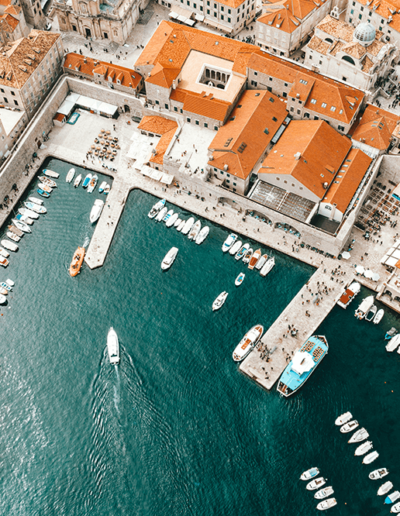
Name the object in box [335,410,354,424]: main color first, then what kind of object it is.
white boat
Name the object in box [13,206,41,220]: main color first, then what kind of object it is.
white boat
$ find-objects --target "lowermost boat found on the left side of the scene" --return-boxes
[107,324,120,368]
